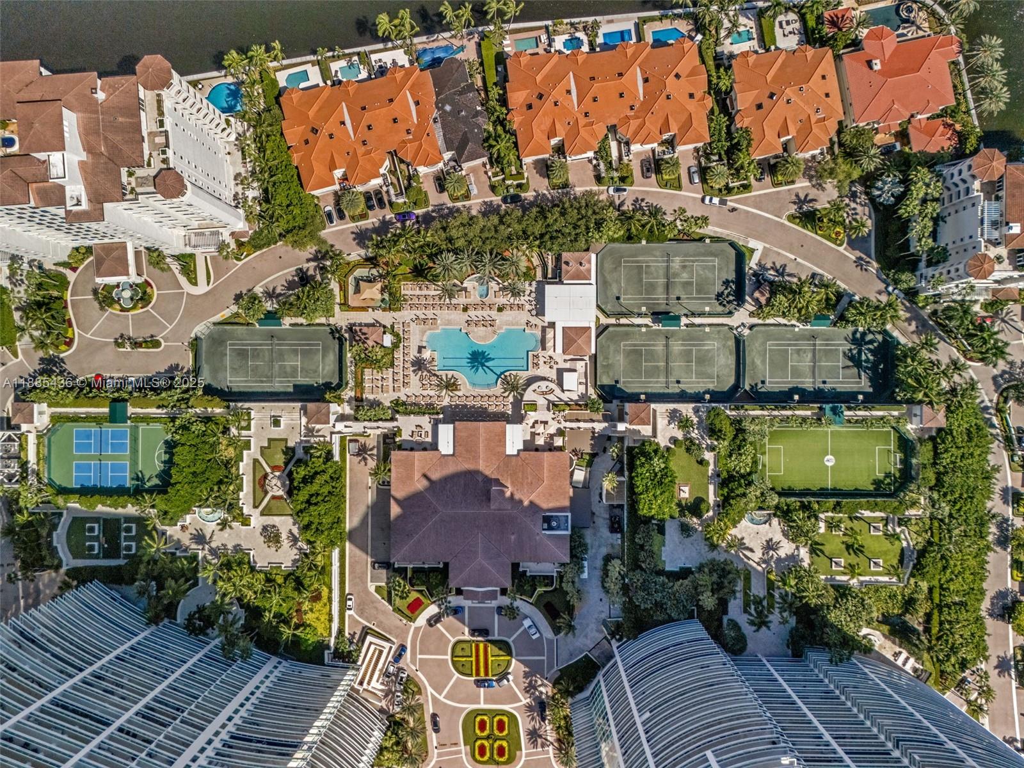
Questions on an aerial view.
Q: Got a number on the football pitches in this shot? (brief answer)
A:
one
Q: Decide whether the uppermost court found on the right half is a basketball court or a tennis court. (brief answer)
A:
tennis court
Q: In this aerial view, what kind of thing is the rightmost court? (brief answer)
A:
tennis court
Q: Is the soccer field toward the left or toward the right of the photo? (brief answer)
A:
right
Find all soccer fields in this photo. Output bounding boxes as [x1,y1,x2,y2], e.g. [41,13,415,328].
[756,425,918,499]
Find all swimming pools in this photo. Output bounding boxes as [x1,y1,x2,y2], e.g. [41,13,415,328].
[602,28,633,46]
[513,36,540,50]
[562,36,584,52]
[865,3,920,31]
[651,26,685,44]
[730,29,753,45]
[478,281,489,300]
[338,61,362,79]
[208,81,243,114]
[416,43,467,69]
[424,327,542,391]
[285,68,310,86]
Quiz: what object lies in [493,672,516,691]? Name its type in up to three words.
vehicle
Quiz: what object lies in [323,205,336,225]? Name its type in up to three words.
vehicle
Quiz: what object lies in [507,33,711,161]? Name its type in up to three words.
house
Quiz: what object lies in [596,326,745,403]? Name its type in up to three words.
tennis court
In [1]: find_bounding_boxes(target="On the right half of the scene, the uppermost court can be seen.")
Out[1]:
[597,239,750,317]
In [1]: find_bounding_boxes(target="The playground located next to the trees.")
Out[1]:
[348,268,395,308]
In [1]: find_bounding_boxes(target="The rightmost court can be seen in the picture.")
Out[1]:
[745,326,903,403]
